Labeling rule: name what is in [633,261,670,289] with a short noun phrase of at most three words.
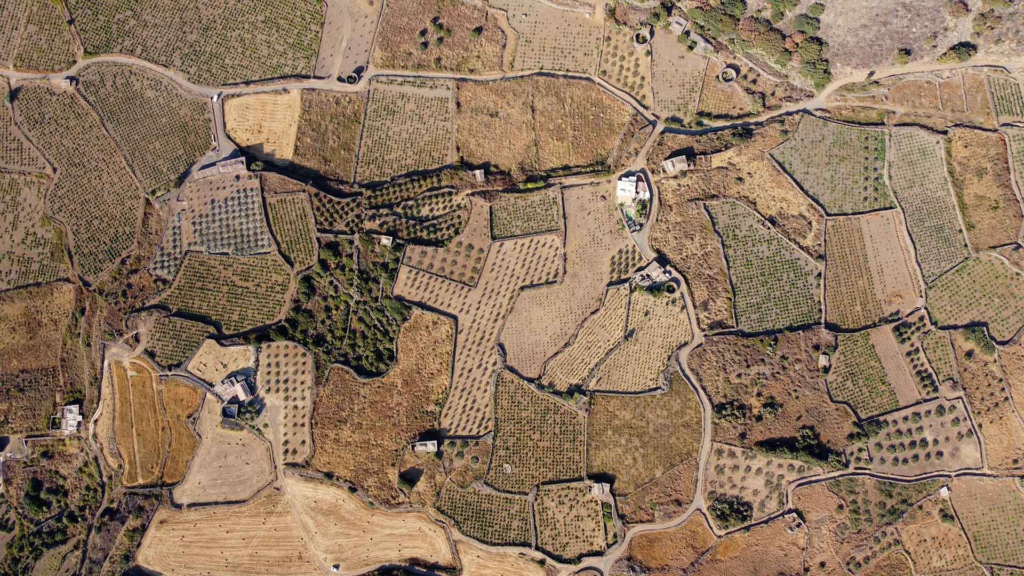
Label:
house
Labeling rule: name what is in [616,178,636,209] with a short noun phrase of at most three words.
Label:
house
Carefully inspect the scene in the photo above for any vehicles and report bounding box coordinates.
[211,93,218,102]
[329,565,338,572]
